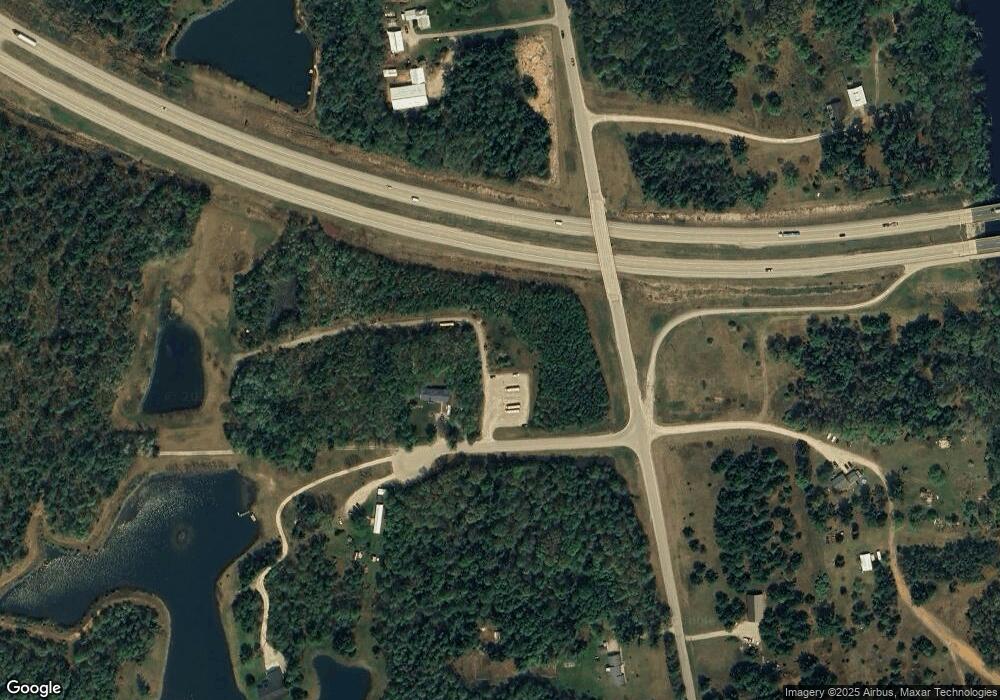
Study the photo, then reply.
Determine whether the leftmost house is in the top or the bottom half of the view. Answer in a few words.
bottom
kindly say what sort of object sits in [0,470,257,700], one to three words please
pond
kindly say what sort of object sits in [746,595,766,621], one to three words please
barn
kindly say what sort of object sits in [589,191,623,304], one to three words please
overpass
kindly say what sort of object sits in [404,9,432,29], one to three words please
house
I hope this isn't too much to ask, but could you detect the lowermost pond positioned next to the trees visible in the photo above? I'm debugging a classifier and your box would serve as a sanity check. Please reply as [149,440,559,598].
[314,656,370,700]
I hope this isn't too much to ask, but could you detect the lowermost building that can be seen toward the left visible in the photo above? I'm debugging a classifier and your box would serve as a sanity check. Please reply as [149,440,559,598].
[257,667,292,700]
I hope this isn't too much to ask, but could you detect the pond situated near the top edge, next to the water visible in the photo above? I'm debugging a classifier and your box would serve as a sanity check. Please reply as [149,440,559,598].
[174,0,312,108]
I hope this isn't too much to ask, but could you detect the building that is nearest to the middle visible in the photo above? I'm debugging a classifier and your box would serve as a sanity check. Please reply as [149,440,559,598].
[421,388,449,401]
